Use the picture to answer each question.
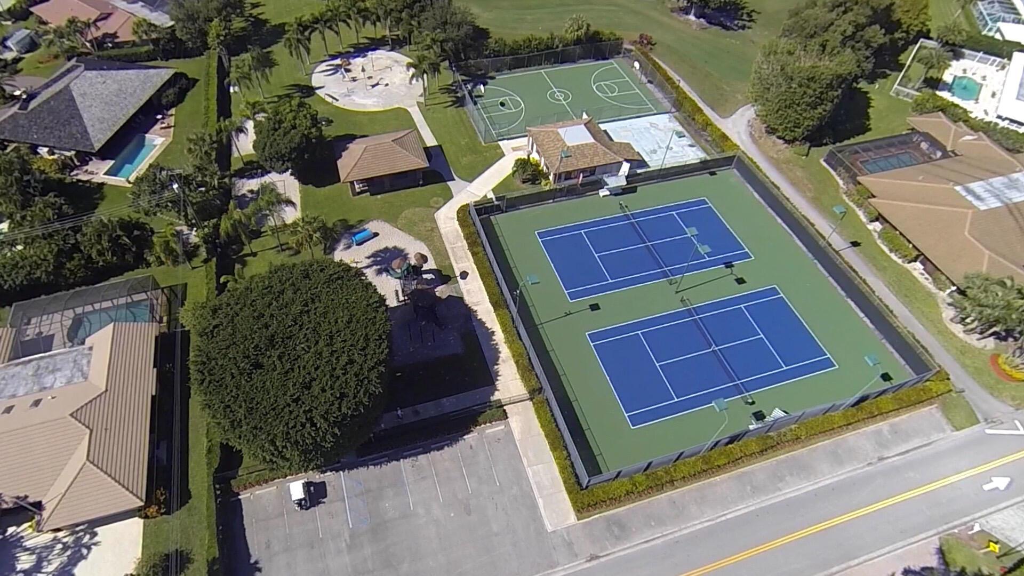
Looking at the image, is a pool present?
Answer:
Yes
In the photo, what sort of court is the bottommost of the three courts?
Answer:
tennis court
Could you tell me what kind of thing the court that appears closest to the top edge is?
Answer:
basketball court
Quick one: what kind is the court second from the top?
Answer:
tennis court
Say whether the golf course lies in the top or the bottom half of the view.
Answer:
top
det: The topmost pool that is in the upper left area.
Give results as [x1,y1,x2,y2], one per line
[98,132,168,182]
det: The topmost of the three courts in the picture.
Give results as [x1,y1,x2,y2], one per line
[464,57,675,143]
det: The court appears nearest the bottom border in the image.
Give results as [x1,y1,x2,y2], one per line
[526,261,909,478]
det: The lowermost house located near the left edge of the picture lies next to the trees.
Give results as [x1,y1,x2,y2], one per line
[0,322,161,532]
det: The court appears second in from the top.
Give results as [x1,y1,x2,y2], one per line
[480,171,811,329]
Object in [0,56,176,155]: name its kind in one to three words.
house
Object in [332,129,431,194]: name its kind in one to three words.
building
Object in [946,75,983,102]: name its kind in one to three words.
swimming pool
